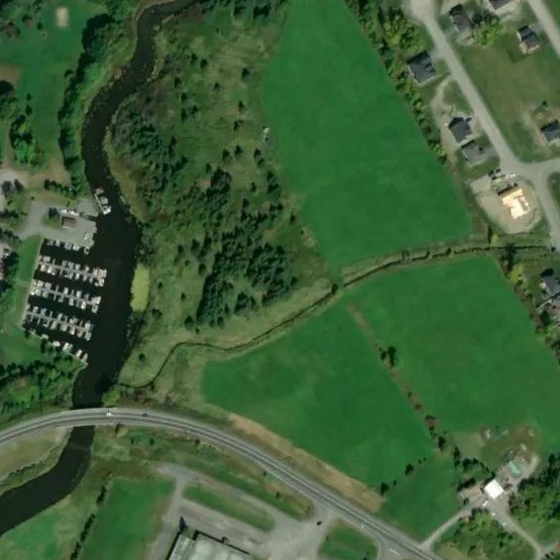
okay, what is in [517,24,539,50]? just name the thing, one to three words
house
